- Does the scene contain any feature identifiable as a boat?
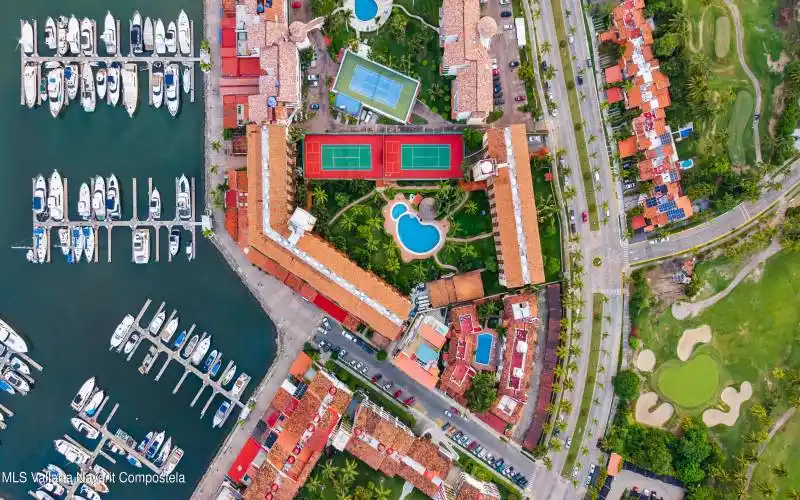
Yes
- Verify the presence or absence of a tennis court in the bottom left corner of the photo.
No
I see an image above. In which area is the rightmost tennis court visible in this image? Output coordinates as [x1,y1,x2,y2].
[384,133,465,180]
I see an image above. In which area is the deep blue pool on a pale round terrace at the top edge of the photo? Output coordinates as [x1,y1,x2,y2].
[345,0,393,32]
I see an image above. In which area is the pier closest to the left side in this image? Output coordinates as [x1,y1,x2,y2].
[0,338,44,428]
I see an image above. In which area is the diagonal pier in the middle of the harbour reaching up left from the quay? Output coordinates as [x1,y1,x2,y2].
[118,299,252,428]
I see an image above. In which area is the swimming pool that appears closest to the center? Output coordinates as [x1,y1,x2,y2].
[384,194,450,262]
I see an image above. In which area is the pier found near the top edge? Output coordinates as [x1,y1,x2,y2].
[18,19,200,104]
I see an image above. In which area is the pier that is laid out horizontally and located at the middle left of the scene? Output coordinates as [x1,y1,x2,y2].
[30,178,202,262]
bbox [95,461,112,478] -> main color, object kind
white boat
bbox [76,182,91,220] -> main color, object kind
white boat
